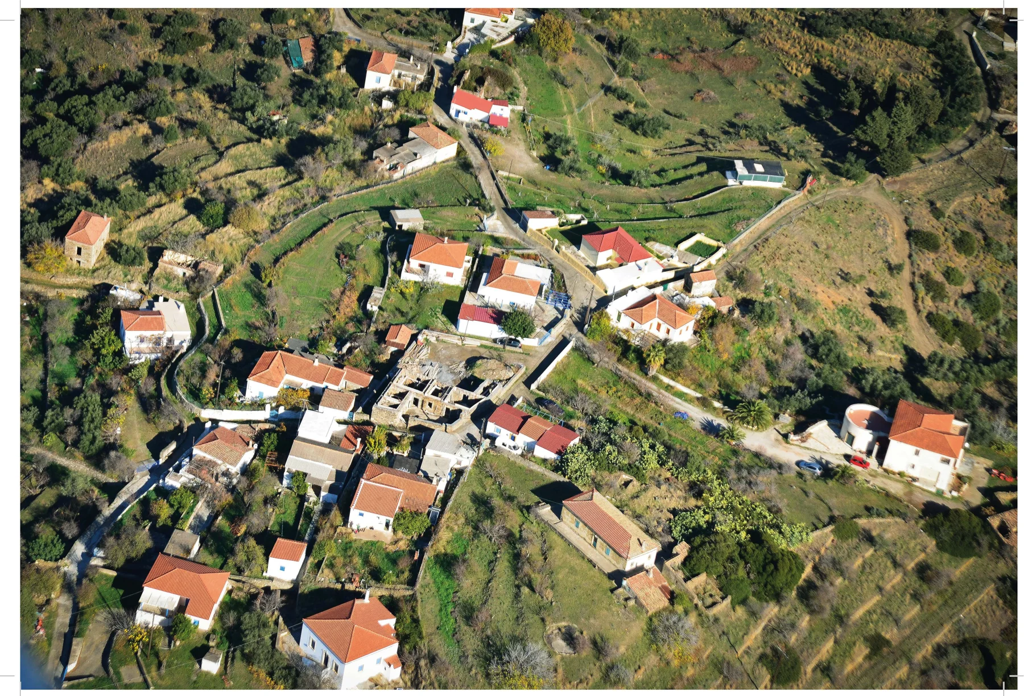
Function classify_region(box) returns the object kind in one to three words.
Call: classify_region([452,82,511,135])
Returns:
house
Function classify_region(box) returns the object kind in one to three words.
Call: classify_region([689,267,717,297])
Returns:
barn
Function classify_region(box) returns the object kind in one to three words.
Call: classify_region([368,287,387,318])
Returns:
shed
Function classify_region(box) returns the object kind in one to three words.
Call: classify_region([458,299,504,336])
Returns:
shed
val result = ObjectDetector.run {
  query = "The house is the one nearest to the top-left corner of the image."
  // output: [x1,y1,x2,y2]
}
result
[65,211,120,268]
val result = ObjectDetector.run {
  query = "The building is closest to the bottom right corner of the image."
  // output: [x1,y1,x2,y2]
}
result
[987,504,1024,557]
